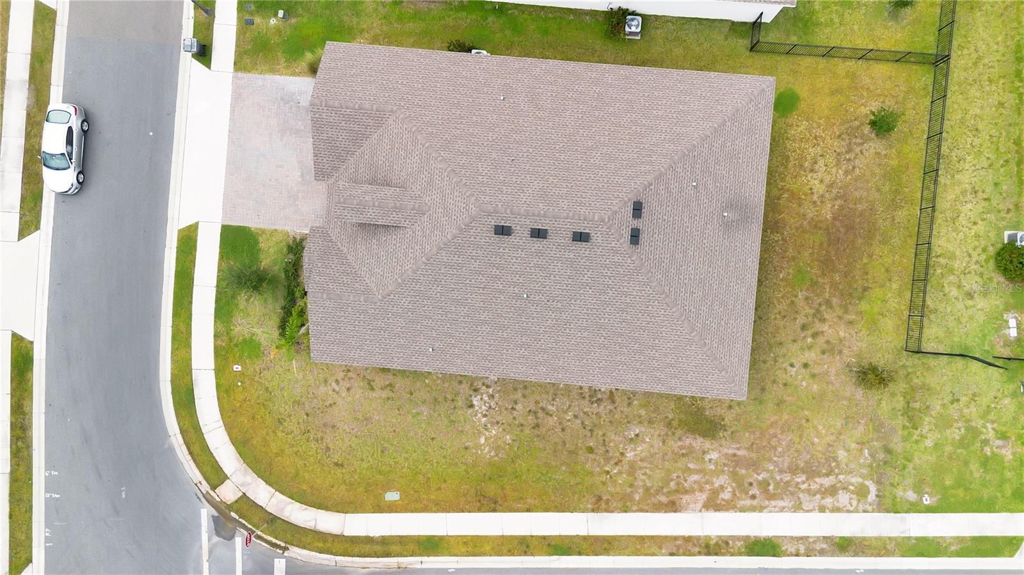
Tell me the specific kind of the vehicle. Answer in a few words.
car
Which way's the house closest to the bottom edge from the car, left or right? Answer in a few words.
to the right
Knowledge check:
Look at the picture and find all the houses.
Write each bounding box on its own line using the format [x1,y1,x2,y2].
[503,0,798,22]
[302,40,776,402]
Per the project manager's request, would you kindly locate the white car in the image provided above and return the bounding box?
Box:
[33,103,88,193]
